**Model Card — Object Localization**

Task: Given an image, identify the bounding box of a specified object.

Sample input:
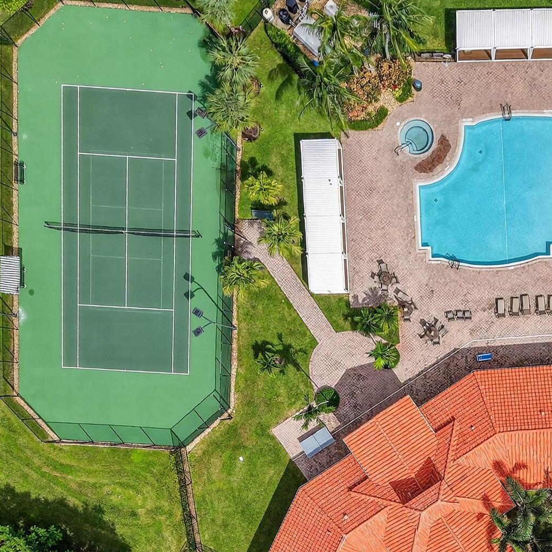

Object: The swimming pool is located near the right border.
[414,105,552,271]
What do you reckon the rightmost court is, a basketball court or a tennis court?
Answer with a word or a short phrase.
tennis court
